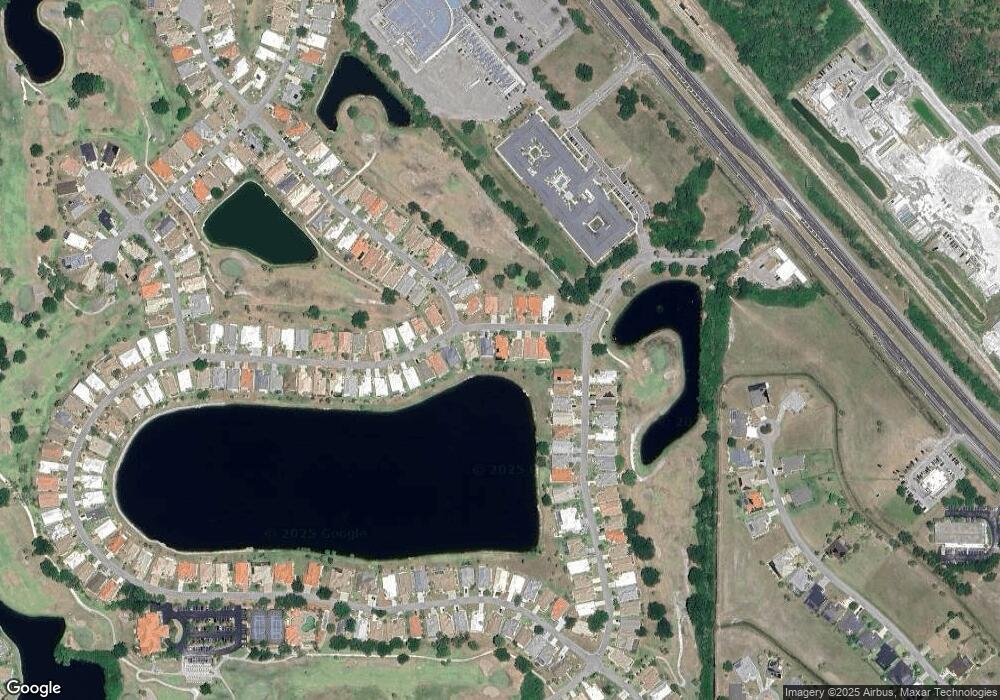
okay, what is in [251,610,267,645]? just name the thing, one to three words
tennis court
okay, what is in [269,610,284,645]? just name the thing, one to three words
tennis court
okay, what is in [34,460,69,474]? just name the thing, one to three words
house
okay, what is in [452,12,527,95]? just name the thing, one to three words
building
